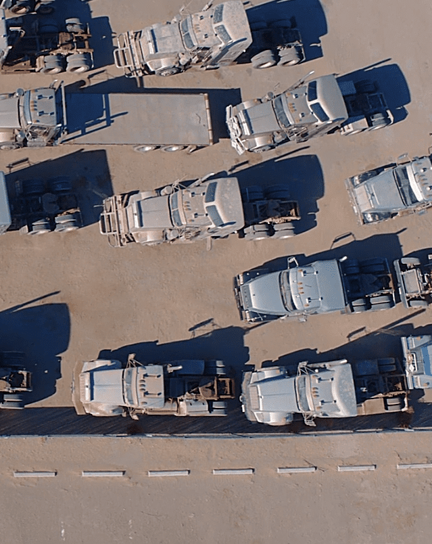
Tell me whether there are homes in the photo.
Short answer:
No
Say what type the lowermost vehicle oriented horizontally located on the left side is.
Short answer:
truck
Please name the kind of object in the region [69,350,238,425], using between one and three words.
truck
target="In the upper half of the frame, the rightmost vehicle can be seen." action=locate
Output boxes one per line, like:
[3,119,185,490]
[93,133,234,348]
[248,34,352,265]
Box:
[344,152,432,227]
